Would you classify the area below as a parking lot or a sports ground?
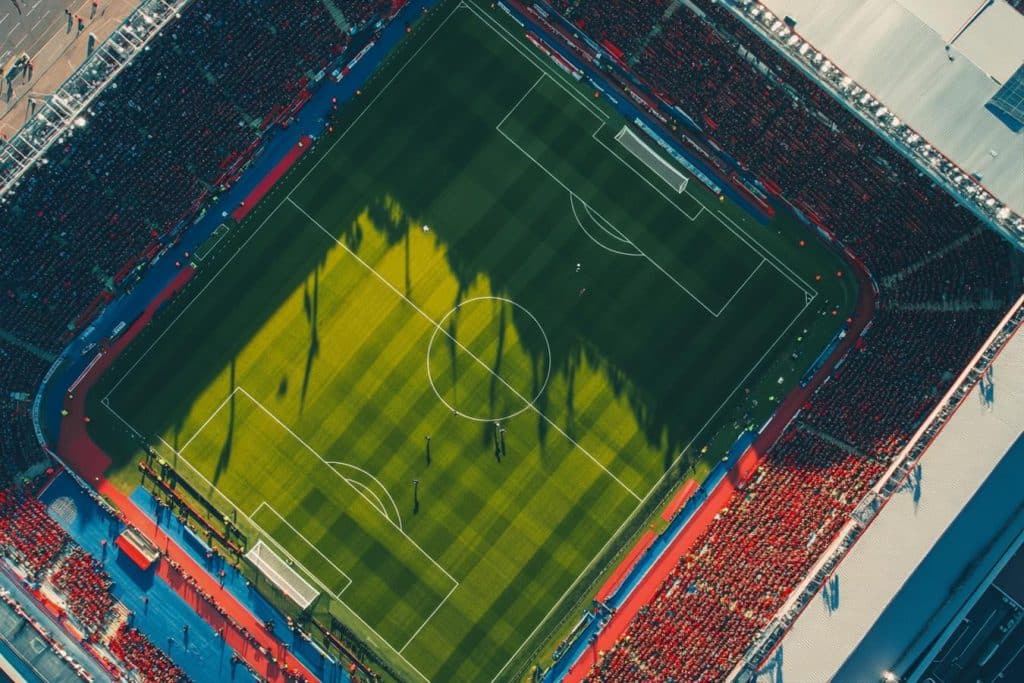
sports ground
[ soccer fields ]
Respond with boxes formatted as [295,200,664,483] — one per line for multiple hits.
[101,0,822,683]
